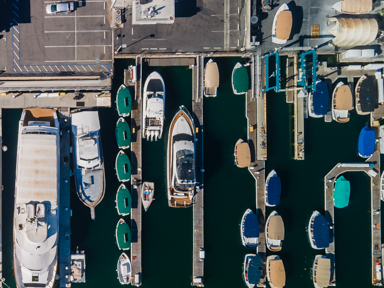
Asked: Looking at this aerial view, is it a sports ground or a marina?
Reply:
marina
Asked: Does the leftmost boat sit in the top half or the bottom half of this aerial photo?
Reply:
bottom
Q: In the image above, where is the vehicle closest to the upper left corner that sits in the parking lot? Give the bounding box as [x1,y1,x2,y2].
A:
[45,1,75,15]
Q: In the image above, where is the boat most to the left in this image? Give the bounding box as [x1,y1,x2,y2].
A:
[12,107,57,288]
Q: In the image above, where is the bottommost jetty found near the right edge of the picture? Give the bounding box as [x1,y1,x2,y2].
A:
[323,117,381,285]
